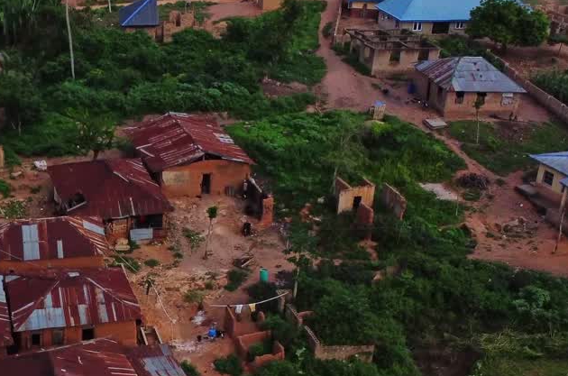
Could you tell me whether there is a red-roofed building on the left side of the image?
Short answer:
Yes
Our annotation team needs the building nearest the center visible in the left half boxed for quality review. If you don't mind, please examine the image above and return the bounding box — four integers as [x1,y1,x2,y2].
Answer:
[124,111,257,197]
